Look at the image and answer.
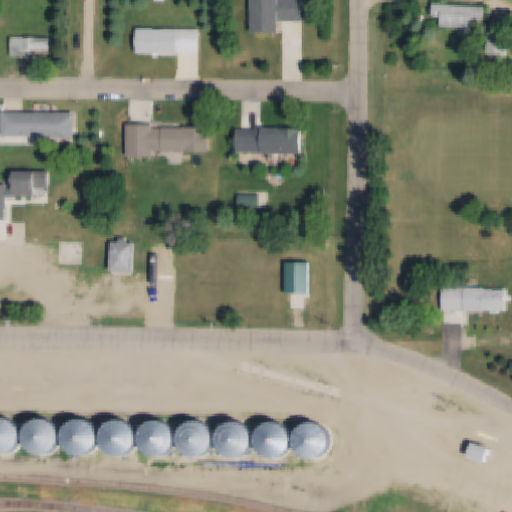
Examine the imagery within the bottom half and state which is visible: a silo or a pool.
silo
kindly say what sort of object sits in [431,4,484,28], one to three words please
house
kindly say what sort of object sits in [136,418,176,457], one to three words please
silo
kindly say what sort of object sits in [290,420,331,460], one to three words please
silo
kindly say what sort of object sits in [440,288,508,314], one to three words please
house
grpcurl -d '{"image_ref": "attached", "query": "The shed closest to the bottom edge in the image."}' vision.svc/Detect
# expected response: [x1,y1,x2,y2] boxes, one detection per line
[466,444,491,462]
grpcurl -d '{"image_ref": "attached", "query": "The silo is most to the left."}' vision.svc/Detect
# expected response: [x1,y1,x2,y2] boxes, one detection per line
[0,416,22,454]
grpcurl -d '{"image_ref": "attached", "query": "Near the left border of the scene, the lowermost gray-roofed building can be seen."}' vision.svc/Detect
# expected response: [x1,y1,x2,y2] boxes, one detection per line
[0,171,48,220]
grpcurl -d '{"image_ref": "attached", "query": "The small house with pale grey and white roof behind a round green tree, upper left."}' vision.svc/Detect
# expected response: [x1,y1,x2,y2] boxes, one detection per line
[8,37,49,56]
